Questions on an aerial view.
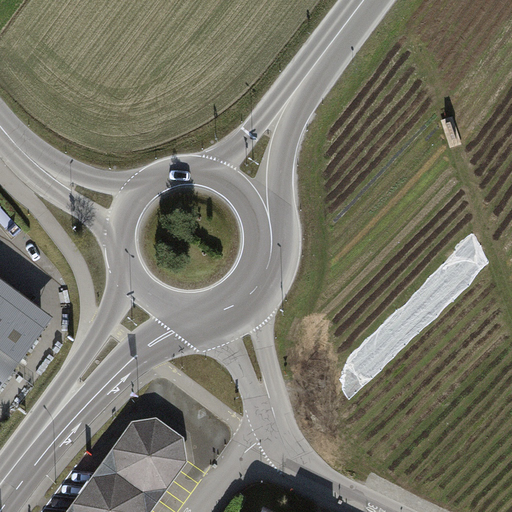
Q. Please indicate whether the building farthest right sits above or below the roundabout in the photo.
below it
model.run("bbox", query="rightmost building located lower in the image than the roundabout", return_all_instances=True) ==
[72,418,187,512]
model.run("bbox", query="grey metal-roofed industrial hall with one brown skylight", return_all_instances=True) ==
[0,278,52,388]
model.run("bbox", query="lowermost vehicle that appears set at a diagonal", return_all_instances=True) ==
[25,241,42,262]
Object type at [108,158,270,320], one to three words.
roundabout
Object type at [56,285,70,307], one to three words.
vehicle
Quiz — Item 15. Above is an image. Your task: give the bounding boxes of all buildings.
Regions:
[0,278,52,388]
[72,418,187,512]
